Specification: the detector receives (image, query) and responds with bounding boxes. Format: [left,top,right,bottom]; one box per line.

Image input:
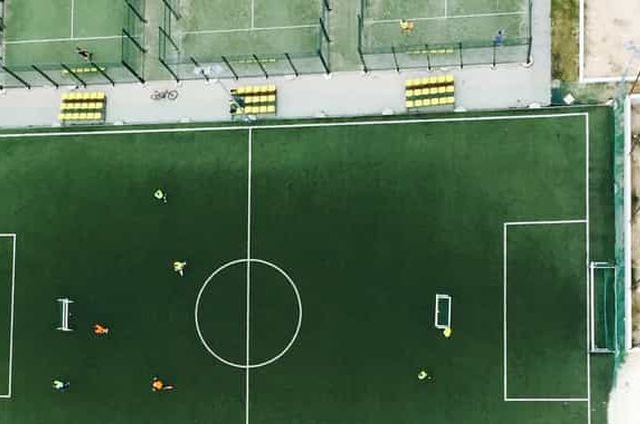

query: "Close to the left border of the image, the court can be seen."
[1,0,145,87]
